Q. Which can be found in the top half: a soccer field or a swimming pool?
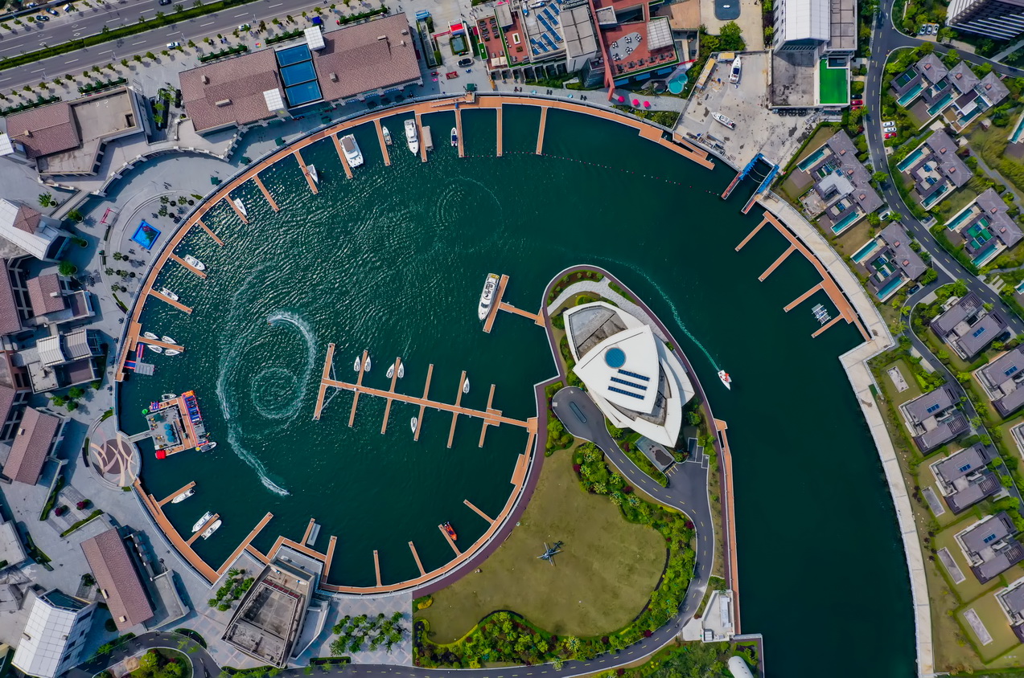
swimming pool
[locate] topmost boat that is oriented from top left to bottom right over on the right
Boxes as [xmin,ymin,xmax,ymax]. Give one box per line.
[712,112,737,130]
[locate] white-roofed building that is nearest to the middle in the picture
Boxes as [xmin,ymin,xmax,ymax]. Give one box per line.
[564,301,695,448]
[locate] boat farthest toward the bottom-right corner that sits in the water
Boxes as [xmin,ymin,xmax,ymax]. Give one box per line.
[719,370,732,390]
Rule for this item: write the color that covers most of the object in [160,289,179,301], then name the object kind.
white boat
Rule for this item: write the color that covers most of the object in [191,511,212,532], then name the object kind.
white boat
